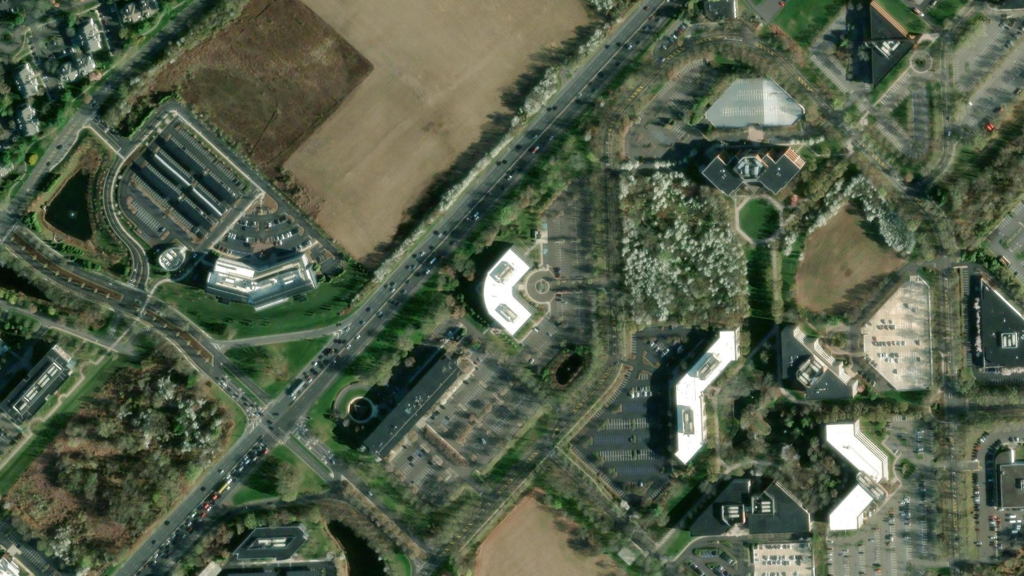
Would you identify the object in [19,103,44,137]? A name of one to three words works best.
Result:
house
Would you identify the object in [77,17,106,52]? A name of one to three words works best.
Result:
house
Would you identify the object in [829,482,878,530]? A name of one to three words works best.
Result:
building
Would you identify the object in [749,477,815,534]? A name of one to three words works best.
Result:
building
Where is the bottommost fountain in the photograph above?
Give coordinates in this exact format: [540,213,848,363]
[347,398,371,421]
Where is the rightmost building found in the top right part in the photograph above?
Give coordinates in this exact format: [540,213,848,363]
[868,0,918,88]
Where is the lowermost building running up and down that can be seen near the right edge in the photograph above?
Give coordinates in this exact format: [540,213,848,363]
[995,445,1024,508]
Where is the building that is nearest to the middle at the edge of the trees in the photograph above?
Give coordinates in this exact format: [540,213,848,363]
[484,243,539,336]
